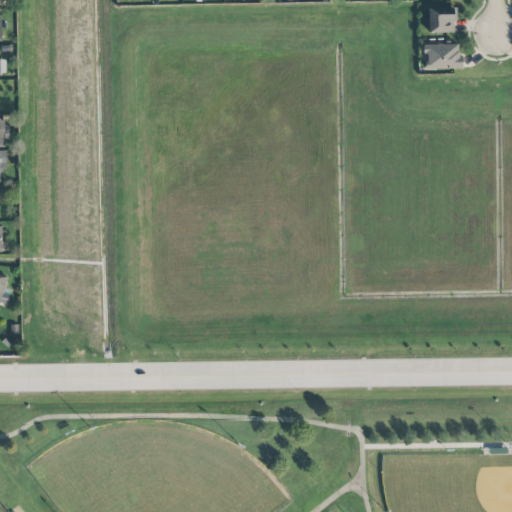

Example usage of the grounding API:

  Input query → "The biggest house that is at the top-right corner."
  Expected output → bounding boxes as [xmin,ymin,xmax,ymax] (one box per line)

[424,44,464,69]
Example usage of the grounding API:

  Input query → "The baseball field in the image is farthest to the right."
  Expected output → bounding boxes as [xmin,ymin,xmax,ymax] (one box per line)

[382,454,512,512]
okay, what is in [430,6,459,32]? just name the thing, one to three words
house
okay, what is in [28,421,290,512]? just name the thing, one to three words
baseball field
